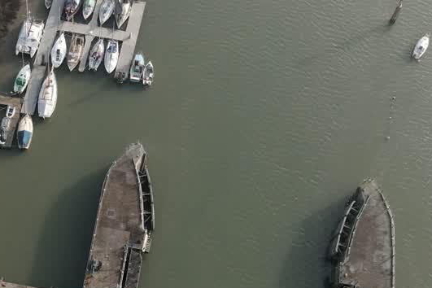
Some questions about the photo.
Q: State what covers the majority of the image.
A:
water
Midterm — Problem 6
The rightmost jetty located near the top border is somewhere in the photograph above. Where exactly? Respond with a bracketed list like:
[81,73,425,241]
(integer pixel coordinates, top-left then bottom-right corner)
[115,1,146,81]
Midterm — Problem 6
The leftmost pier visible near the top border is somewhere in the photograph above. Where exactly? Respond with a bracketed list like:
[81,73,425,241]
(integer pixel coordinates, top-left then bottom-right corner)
[22,0,65,115]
